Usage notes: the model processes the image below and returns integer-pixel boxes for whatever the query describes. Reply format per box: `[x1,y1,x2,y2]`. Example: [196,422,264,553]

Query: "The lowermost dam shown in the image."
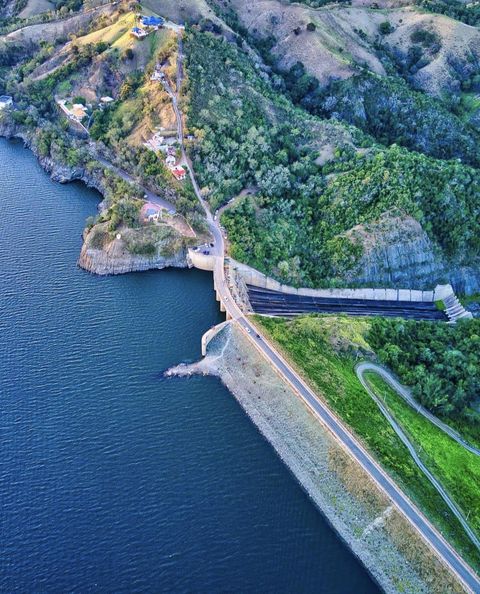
[203,319,480,594]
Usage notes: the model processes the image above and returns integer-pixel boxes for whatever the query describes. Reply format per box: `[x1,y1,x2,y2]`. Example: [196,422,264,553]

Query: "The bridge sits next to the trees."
[210,240,266,332]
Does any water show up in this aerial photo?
Yes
